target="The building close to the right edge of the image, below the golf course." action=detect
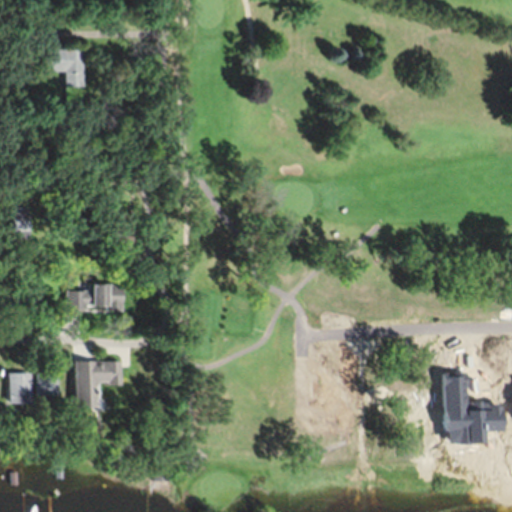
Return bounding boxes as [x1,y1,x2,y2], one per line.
[445,374,505,444]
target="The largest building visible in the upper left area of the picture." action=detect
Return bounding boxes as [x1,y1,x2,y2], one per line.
[53,48,86,87]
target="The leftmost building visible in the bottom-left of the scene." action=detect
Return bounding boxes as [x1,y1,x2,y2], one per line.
[8,374,33,405]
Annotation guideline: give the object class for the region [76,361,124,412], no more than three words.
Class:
house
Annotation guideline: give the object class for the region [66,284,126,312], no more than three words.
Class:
house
